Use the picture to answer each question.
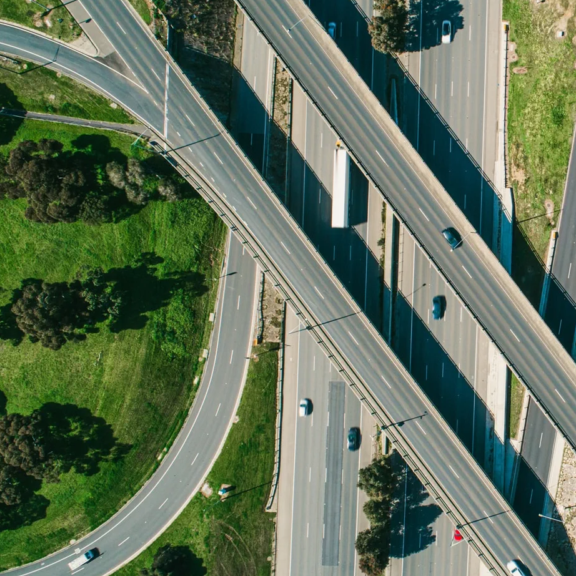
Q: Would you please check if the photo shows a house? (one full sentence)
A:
No, I can see no house in this picture.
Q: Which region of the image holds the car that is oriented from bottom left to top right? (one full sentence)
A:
The car that is oriented from bottom left to top right is located in the bottom left region of the scene.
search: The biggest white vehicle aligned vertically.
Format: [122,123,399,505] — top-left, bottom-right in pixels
[329,135,348,225]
